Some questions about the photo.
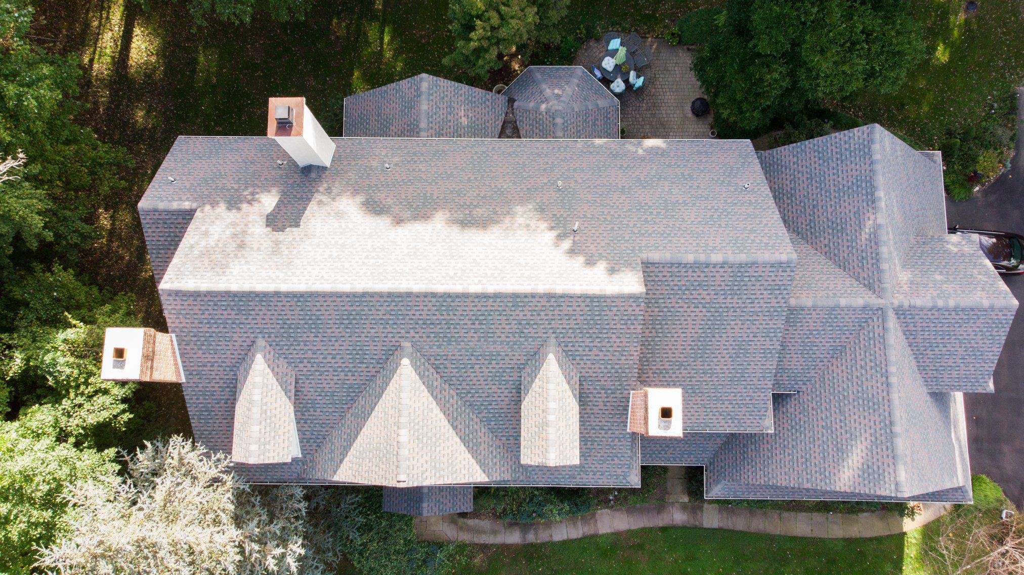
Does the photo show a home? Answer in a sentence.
Yes, a home is visible in the scene.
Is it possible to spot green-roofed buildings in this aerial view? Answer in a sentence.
No, I can't see a single green-roofed building in this photo.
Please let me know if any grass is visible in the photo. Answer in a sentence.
Yes, the picture does contain grass.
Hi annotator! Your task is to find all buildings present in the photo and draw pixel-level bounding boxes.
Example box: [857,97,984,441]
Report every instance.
[102,63,1019,515]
